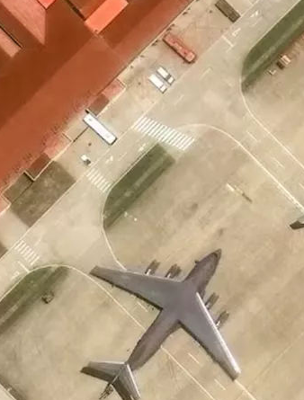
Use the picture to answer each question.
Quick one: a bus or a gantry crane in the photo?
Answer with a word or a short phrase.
bus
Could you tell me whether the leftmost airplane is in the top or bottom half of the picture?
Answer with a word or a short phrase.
bottom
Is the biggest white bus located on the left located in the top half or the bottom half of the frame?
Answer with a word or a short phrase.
top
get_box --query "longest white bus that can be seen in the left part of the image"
[82,113,117,146]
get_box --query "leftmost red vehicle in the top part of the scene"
[162,33,196,65]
